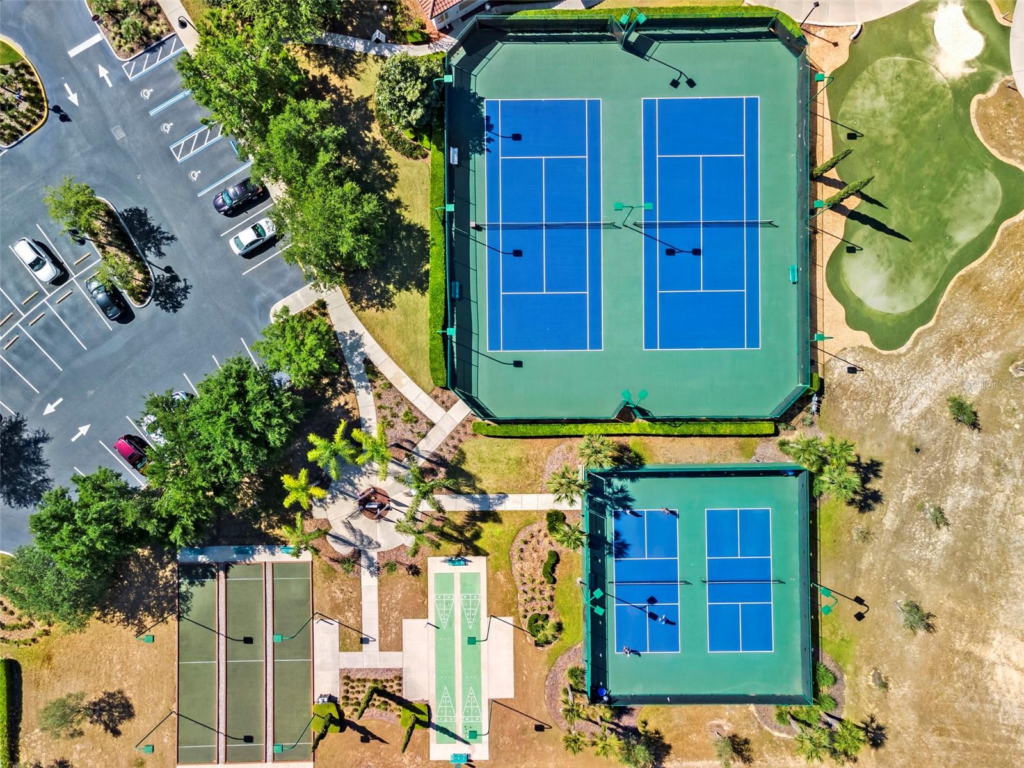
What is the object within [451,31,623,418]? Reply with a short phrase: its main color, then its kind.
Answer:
blue tennis court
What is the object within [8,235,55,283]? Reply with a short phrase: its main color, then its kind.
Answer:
white car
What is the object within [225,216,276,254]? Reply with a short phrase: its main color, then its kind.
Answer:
white car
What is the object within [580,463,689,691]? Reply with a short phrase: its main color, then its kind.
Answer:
blue sports court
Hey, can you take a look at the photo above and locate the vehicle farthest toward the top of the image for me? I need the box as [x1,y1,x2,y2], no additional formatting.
[211,174,262,212]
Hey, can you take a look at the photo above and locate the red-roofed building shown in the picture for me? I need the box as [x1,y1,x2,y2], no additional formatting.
[418,0,492,30]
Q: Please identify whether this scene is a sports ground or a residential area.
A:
sports ground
